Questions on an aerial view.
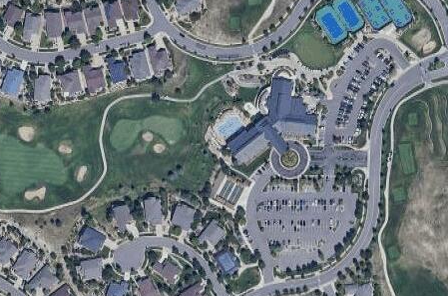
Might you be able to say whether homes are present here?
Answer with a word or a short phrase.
Yes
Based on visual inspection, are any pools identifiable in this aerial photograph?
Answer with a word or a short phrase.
Yes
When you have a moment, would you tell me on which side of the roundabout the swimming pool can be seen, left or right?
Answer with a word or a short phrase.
to the left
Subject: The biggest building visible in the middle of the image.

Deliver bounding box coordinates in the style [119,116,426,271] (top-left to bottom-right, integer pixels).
[224,76,318,165]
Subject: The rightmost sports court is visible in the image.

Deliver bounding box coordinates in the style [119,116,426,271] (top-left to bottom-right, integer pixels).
[380,0,412,27]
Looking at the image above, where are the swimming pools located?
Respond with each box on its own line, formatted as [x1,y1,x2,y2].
[204,103,258,182]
